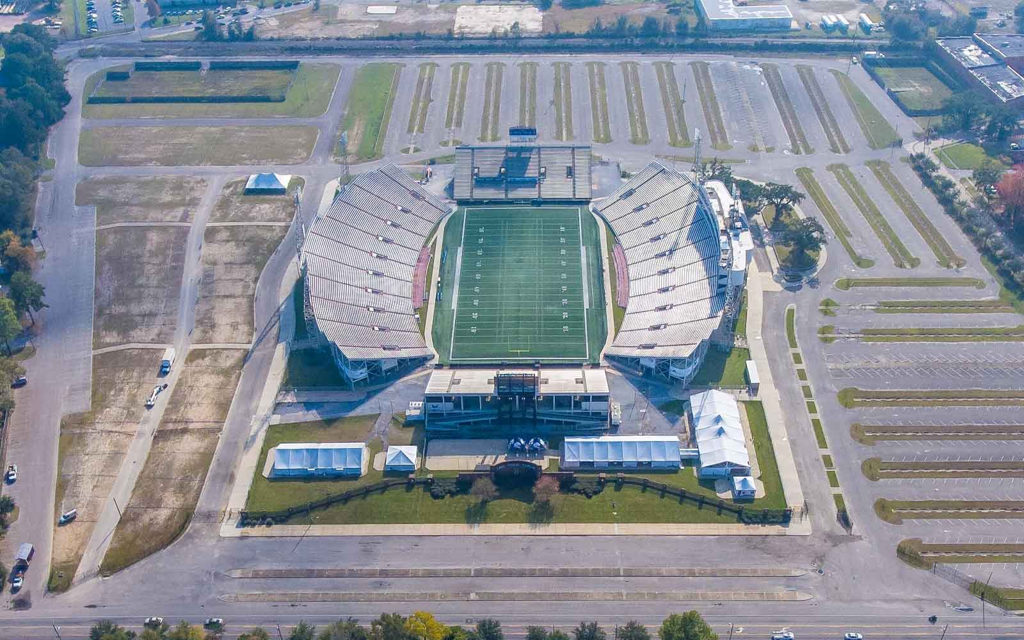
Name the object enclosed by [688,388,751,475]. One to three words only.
tent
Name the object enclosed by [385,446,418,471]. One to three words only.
tent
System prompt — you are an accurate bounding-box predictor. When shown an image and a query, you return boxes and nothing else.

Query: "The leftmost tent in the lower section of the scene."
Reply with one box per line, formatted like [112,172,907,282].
[273,442,367,474]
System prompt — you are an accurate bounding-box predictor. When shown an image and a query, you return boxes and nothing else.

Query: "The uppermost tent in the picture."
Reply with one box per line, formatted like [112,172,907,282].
[244,172,288,193]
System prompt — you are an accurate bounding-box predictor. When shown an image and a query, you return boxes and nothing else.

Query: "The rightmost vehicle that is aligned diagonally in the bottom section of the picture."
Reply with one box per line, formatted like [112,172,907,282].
[144,380,163,404]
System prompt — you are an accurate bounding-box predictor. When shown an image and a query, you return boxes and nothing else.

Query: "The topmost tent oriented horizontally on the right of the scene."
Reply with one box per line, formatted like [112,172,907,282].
[563,436,680,468]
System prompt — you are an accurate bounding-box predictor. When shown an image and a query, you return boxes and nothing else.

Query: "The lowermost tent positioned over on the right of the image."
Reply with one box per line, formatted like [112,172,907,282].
[733,474,755,491]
